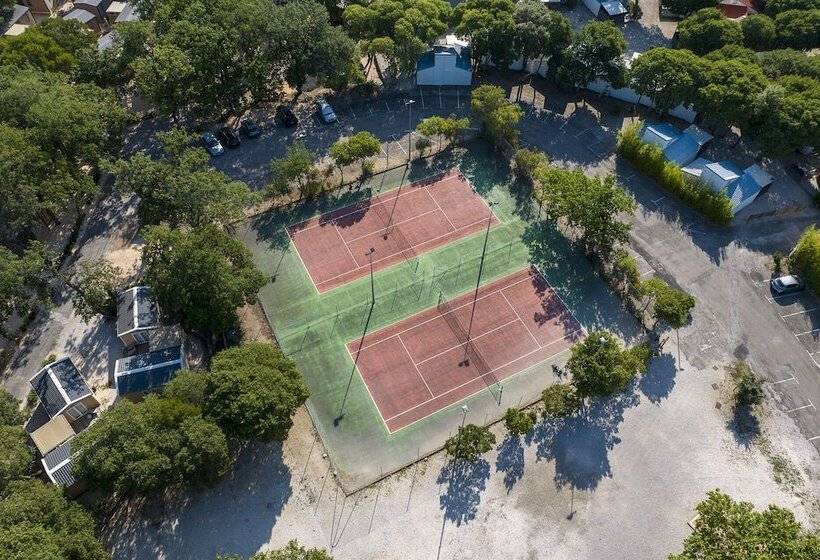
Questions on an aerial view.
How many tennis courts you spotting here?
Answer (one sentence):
The picture shows 2 tennis courts.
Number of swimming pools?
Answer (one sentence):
I count no swimming pools.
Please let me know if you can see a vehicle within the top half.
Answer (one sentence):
Yes, the scene does show a vehicle within the top half.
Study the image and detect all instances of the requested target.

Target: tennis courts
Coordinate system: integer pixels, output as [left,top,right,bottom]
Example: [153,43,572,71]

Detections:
[230,138,558,340]
[279,226,656,494]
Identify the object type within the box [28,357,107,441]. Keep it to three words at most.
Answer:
building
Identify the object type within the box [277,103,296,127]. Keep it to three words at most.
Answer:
car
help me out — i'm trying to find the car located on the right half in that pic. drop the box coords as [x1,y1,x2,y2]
[769,272,806,296]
